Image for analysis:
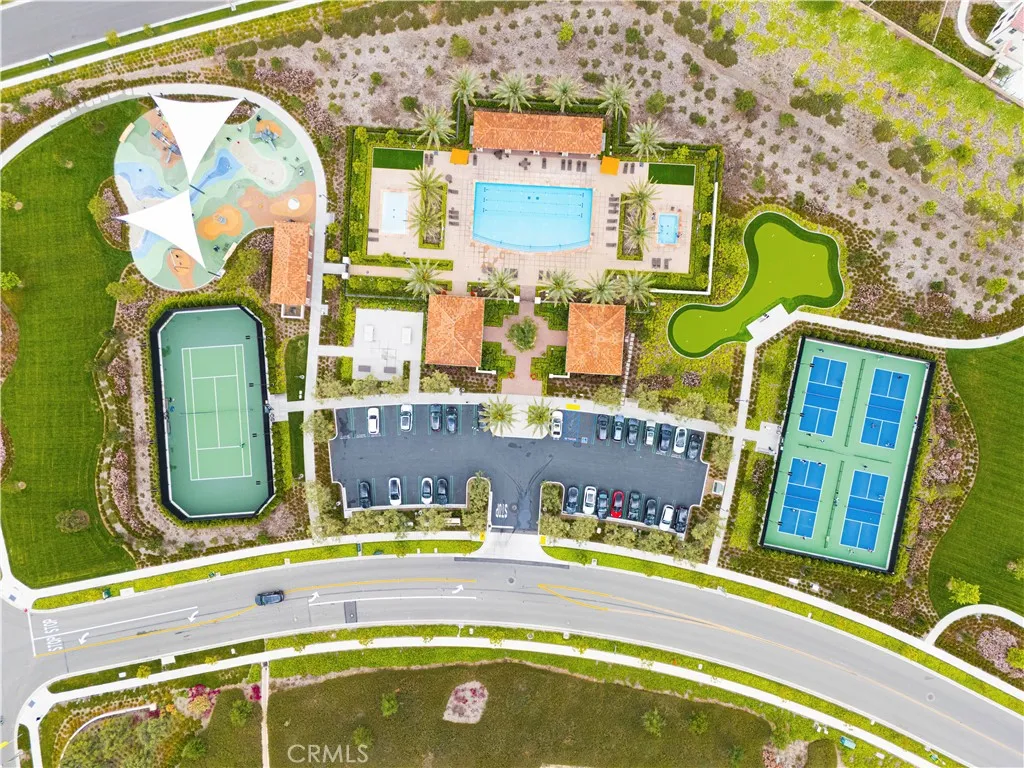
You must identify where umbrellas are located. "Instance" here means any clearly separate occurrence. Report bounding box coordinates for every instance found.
[450,147,469,166]
[600,156,620,176]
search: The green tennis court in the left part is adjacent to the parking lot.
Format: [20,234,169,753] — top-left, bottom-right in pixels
[157,308,269,518]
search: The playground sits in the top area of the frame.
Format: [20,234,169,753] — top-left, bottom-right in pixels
[112,108,318,292]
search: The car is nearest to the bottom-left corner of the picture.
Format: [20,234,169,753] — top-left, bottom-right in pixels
[255,590,284,605]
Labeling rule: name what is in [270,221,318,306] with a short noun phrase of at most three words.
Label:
building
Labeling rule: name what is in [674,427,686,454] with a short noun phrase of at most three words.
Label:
vehicle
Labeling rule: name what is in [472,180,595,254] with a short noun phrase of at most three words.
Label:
swimming pool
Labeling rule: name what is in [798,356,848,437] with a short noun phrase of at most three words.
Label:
sports court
